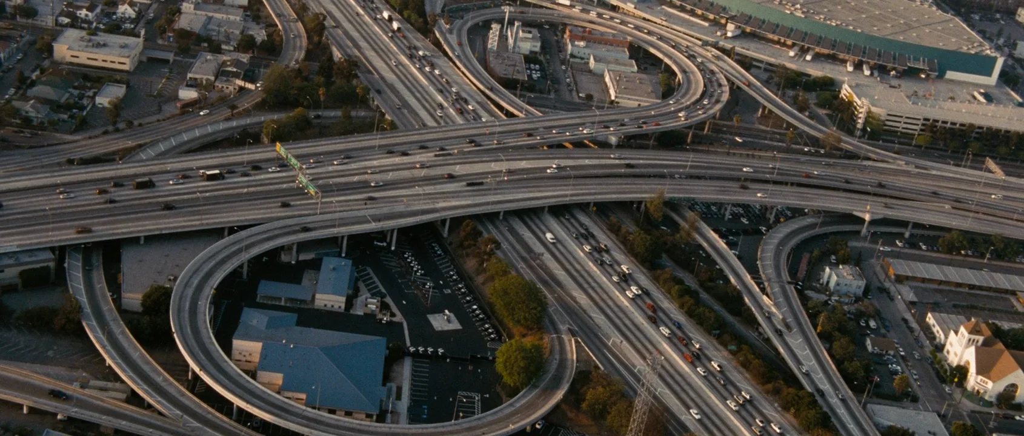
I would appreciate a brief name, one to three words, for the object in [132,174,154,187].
vehicle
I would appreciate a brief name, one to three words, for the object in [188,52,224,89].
building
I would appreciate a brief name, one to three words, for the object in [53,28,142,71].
building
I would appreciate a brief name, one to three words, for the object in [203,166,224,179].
vehicle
